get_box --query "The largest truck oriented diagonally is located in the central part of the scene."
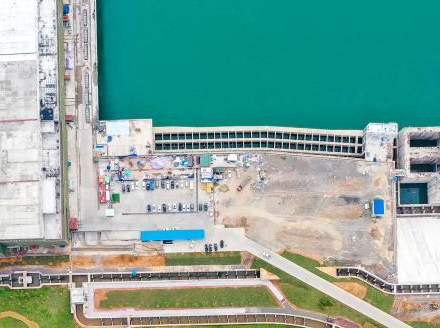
[229,173,252,199]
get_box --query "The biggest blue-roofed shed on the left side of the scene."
[141,229,204,241]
